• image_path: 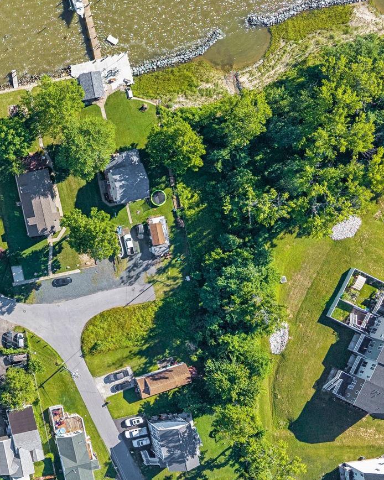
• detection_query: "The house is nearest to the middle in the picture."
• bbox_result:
[148,216,169,255]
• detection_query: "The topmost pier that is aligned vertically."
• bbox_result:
[83,0,104,61]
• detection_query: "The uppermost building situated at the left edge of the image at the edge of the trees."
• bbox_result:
[15,169,61,237]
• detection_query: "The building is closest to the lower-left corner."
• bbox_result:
[0,438,34,480]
